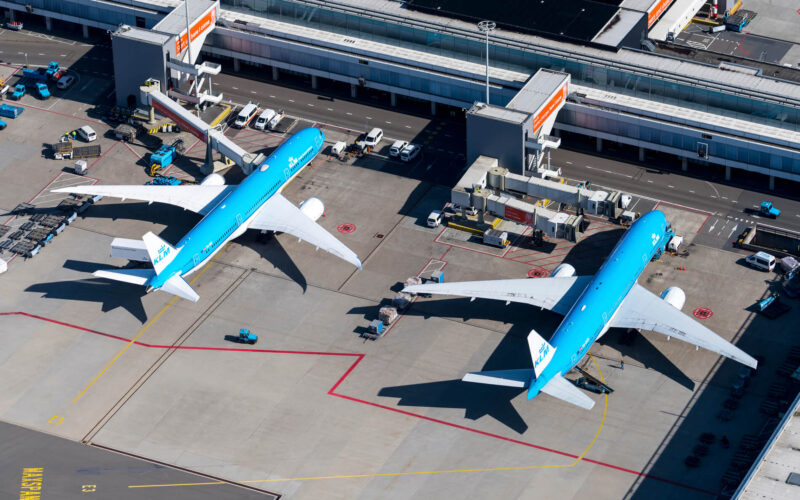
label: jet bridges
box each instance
[140,73,269,177]
[466,187,586,250]
[485,166,626,223]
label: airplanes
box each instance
[52,132,361,302]
[400,218,757,409]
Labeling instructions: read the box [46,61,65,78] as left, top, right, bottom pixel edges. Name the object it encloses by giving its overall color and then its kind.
blue work vehicle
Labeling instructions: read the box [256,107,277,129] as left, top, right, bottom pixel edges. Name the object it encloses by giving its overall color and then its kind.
white vehicle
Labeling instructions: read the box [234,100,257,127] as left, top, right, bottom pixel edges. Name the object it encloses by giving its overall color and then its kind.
white vehicle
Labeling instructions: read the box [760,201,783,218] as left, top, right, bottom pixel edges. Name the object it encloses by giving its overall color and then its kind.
blue work vehicle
